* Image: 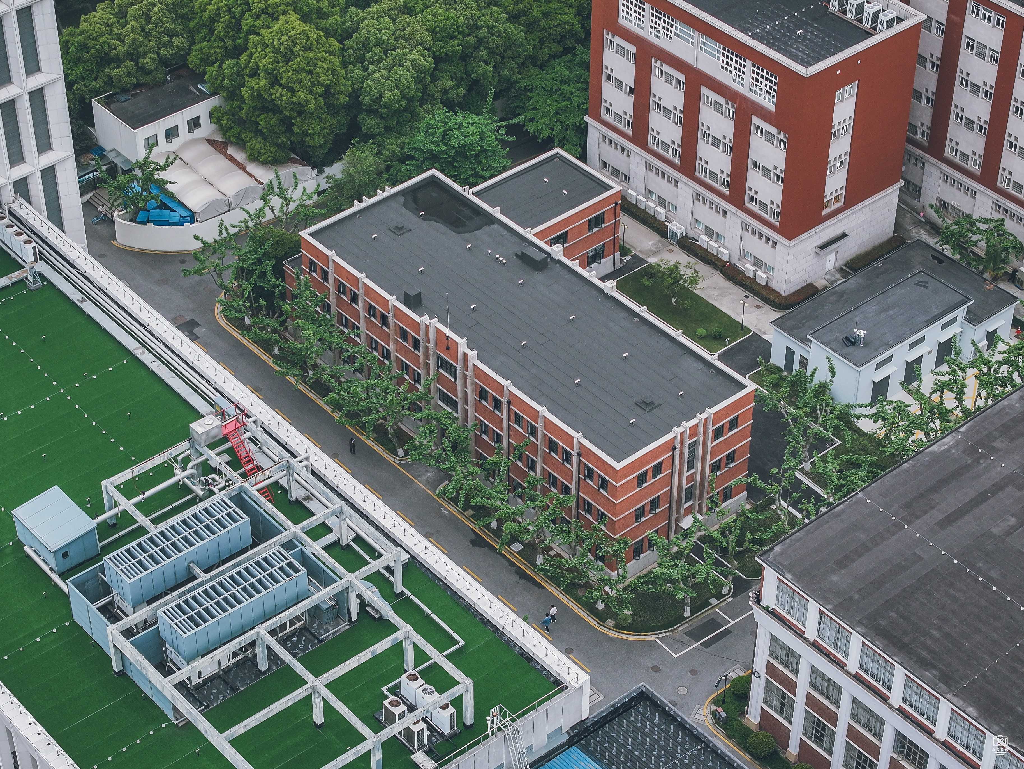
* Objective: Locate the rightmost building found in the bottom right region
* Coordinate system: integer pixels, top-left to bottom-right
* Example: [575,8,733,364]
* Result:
[737,383,1024,769]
